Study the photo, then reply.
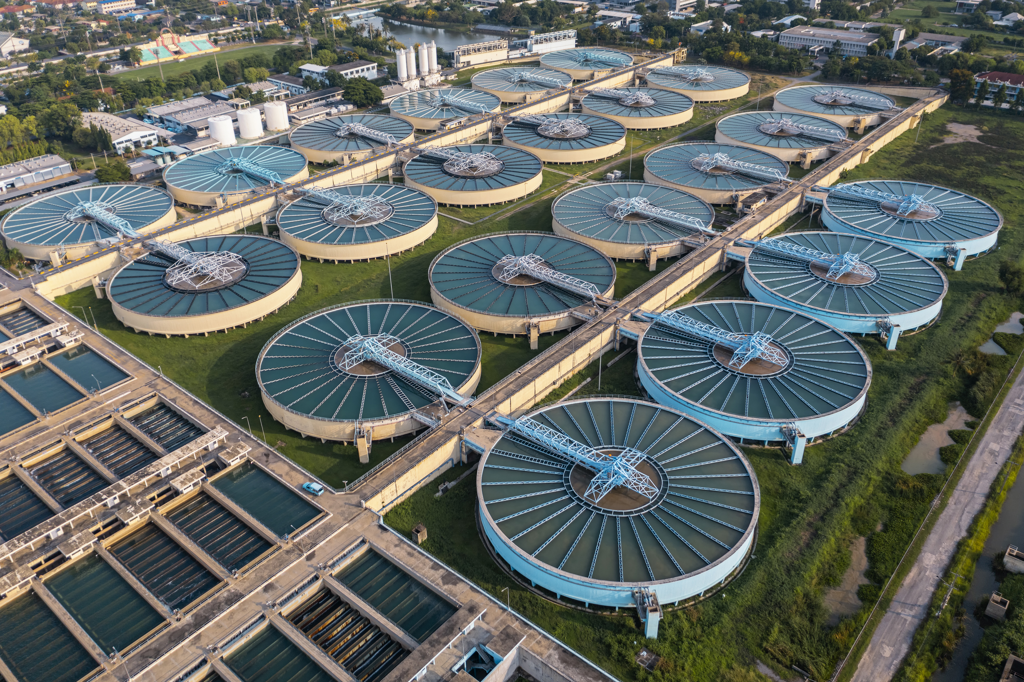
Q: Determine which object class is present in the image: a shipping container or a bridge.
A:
bridge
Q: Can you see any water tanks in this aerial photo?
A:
Yes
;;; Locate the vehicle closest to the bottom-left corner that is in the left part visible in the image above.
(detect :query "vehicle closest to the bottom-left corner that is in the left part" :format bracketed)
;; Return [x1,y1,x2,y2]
[304,481,327,494]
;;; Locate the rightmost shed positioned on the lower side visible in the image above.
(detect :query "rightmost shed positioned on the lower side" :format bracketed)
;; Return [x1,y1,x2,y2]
[216,443,253,471]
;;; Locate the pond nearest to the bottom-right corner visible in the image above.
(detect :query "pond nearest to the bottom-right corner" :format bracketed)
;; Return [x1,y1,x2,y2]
[825,537,868,625]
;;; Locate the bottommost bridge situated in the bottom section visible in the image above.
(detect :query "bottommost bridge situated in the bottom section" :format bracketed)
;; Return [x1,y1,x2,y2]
[494,415,614,475]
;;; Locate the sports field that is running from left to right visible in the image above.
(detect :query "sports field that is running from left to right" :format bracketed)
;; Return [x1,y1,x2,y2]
[114,44,299,85]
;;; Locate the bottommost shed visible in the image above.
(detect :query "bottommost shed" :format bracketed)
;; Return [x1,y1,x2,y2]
[0,569,31,604]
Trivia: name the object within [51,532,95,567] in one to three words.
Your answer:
shed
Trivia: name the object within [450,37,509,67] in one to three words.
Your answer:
building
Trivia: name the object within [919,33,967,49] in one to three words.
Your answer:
building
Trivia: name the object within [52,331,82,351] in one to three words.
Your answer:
shed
